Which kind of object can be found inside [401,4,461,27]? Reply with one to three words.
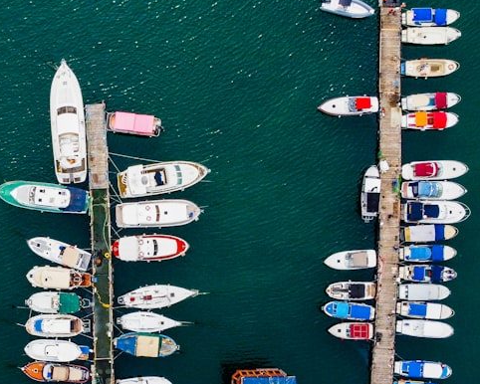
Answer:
boat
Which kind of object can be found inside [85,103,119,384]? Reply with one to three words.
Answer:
pier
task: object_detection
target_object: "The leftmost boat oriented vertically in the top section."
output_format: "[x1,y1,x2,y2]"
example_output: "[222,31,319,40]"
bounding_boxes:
[46,59,89,185]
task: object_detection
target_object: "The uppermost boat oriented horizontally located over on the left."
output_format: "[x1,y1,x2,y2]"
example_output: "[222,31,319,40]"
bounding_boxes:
[105,110,169,141]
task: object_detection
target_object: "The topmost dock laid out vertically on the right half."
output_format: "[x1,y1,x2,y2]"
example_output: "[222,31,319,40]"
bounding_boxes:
[372,6,405,332]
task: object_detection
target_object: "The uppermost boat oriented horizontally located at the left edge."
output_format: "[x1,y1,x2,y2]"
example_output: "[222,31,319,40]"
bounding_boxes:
[0,180,92,221]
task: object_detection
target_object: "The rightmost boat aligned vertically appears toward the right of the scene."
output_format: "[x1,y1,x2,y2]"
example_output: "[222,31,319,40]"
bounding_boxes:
[357,164,383,227]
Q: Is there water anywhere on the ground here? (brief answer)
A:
Yes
